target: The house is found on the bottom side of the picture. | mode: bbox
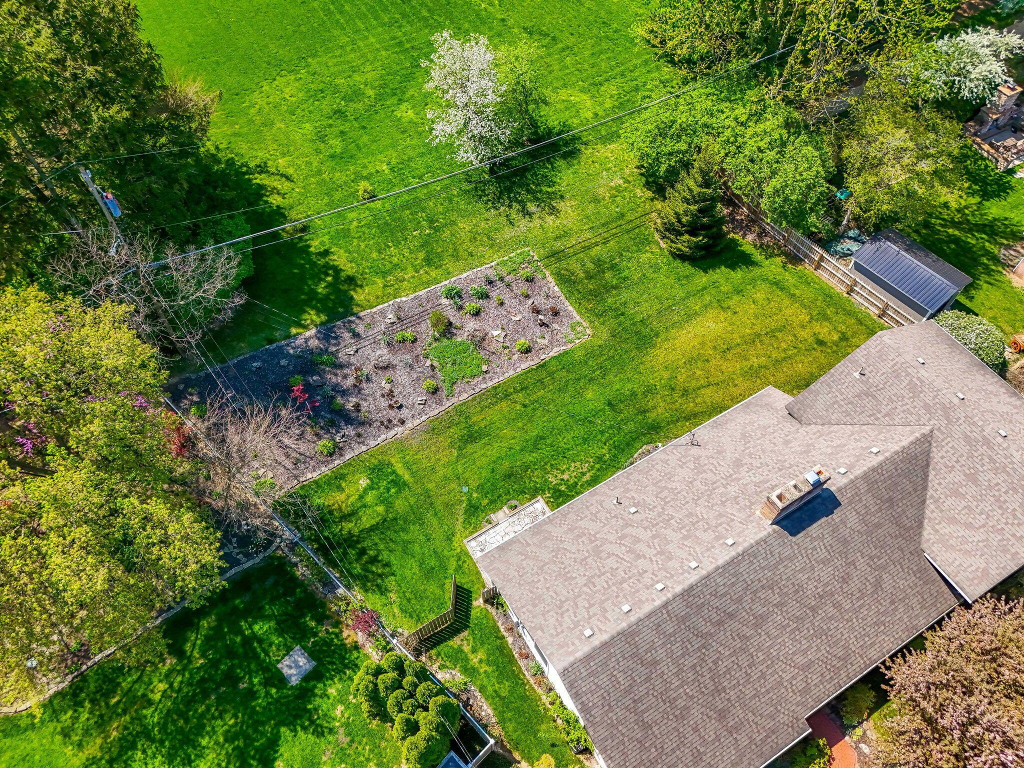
[476,314,1024,768]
